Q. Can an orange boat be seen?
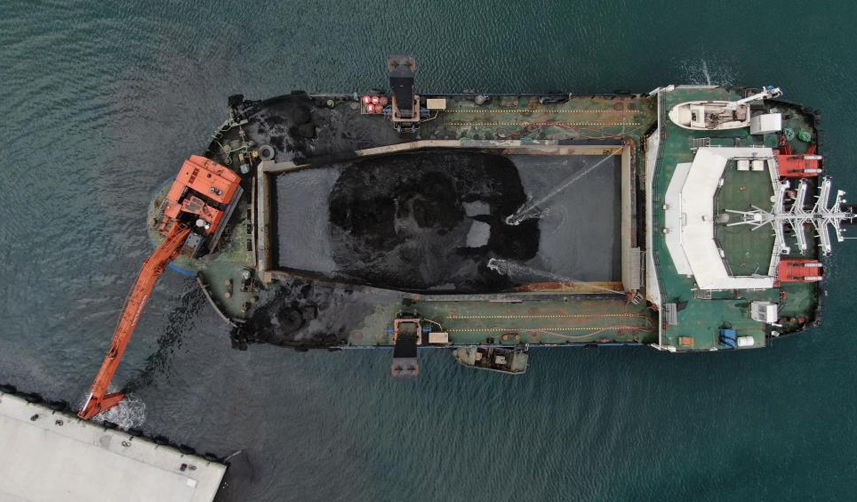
No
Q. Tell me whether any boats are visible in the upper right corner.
Yes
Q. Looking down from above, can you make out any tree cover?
No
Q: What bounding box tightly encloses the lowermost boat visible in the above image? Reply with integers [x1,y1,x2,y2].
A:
[452,347,530,374]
